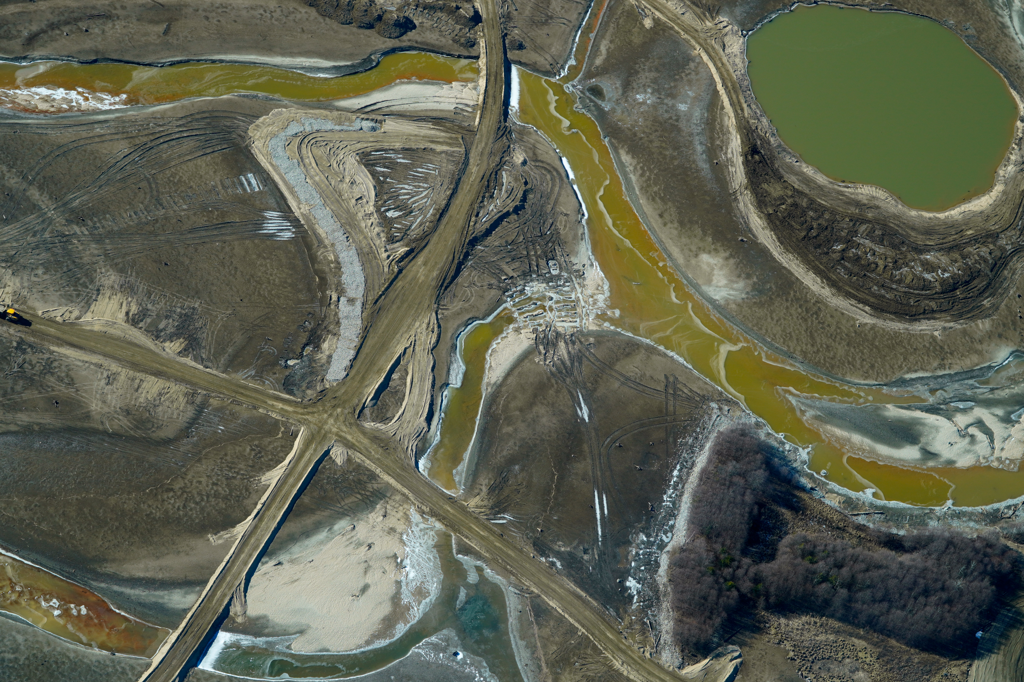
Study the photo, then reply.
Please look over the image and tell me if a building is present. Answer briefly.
No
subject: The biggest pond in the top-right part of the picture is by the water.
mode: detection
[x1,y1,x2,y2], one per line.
[745,5,1018,211]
